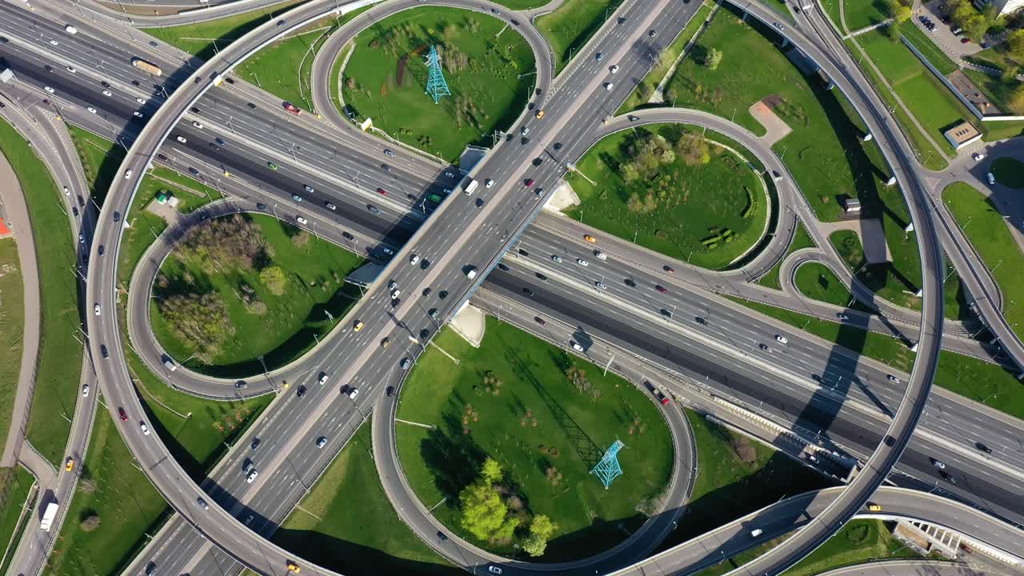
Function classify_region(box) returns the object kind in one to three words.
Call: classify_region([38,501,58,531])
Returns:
vehicle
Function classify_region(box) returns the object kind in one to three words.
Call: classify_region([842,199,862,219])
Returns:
shed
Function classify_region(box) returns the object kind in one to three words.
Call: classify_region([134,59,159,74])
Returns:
vehicle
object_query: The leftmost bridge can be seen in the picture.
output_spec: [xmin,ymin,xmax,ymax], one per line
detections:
[87,0,372,576]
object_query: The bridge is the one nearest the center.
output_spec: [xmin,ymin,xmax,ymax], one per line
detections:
[385,149,559,320]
